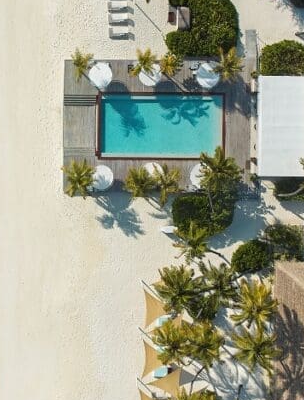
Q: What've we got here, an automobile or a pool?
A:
pool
